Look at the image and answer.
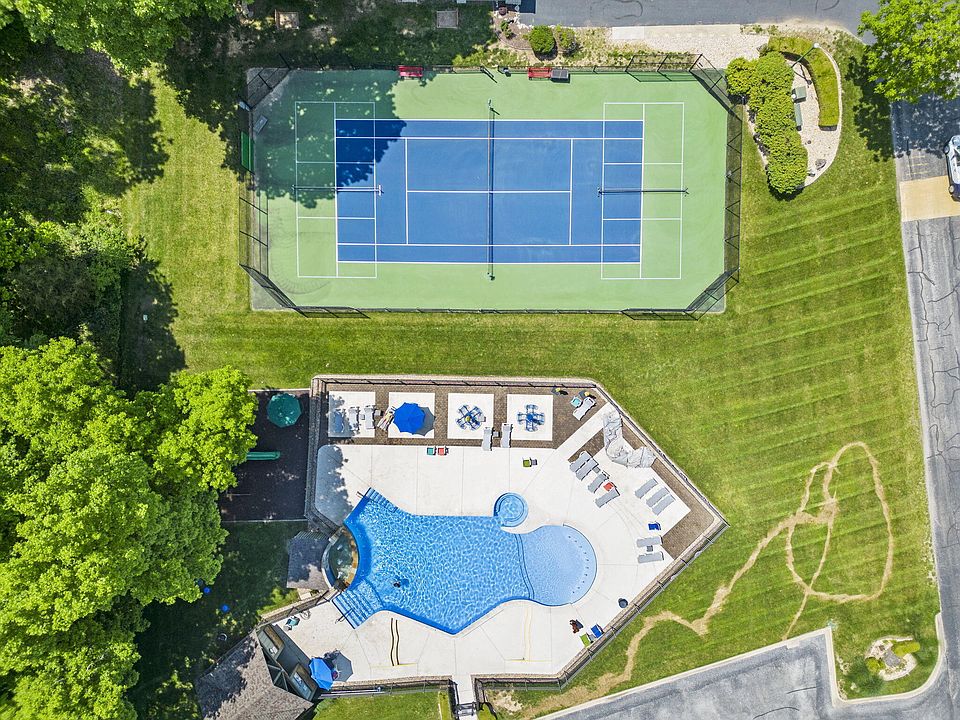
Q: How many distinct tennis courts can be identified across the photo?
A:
1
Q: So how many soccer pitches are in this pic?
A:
zero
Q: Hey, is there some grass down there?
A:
Yes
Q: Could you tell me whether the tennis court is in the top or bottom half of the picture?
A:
top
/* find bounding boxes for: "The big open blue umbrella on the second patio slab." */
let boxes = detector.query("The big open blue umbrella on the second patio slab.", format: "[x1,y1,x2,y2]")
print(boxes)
[394,402,425,433]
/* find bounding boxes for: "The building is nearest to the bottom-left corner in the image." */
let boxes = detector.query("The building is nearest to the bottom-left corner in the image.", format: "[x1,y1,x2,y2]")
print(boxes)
[194,621,322,720]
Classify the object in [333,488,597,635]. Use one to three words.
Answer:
swimming pool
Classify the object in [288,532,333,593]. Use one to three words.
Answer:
shed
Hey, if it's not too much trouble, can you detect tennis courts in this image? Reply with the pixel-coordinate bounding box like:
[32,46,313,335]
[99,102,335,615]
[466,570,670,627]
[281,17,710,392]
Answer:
[248,68,728,312]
